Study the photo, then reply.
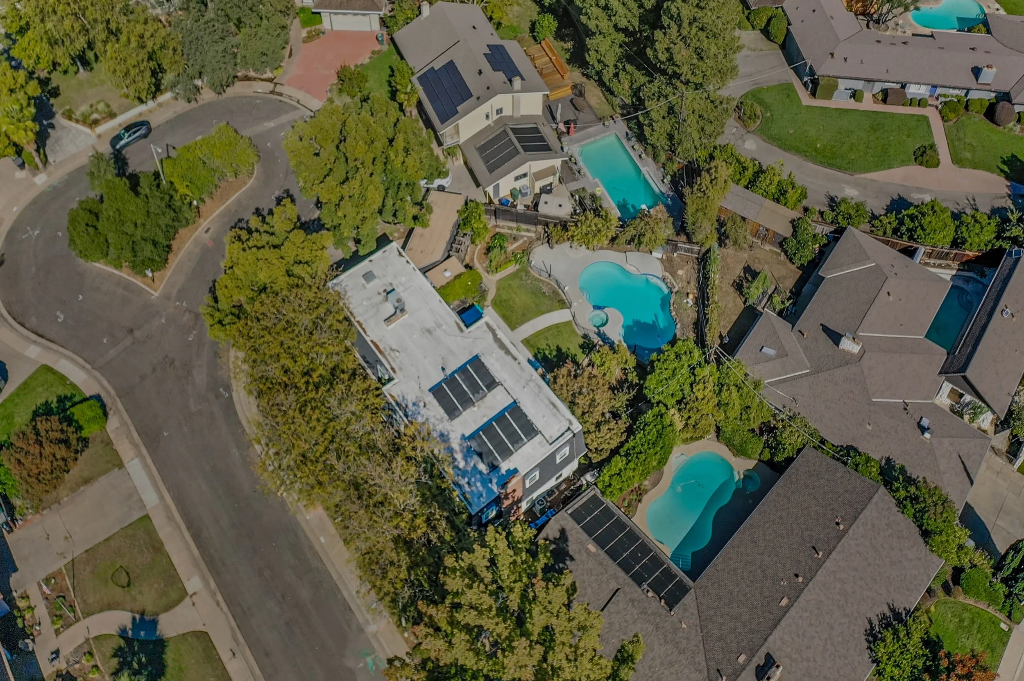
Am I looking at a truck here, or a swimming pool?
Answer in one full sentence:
Looking from above, you can make out a swimming pool.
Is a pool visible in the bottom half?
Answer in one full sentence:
Yes, a pool shows up in the bottom half.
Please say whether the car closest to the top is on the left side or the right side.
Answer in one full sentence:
You can find the car closest to the top on the left side of the picture.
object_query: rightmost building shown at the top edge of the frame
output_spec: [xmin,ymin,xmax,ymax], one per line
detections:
[777,0,1024,120]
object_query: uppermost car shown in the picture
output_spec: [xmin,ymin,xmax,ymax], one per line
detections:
[107,121,155,152]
